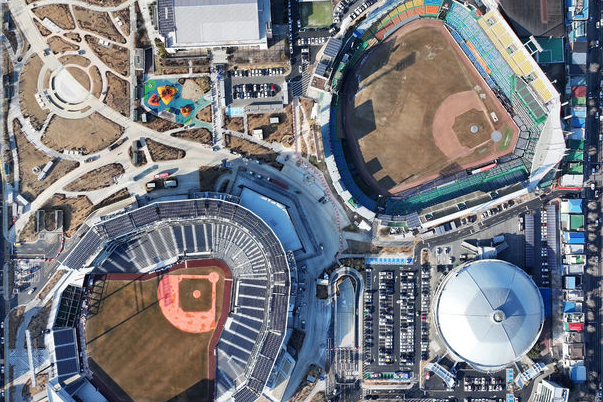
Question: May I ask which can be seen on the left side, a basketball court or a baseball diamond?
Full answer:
There is a baseball diamond on the left side.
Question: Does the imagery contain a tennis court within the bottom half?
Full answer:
No, I can find no tennis court within the bottom half.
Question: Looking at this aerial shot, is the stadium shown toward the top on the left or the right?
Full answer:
You can find the stadium shown toward the top on the right side of the picture.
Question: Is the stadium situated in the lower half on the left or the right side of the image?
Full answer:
The stadium situated in the lower half appears in the left half of the scene.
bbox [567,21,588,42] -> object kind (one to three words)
building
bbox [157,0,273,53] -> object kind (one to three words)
building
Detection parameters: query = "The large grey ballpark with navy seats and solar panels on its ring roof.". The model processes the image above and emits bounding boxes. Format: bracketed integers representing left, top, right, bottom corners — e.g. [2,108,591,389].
[46,189,306,402]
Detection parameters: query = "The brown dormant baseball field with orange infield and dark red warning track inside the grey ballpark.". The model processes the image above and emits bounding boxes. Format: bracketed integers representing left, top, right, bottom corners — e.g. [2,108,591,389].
[83,258,233,402]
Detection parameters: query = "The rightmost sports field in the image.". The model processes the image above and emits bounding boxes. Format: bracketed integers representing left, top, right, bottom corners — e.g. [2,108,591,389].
[498,0,564,36]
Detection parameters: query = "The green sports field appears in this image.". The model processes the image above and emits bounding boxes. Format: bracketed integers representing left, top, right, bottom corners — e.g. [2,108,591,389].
[300,0,333,29]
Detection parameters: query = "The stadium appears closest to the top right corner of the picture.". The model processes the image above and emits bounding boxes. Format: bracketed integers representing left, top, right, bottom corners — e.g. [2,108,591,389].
[304,0,580,240]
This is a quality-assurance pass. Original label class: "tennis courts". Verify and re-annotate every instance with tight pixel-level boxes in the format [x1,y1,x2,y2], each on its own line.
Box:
[527,36,565,64]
